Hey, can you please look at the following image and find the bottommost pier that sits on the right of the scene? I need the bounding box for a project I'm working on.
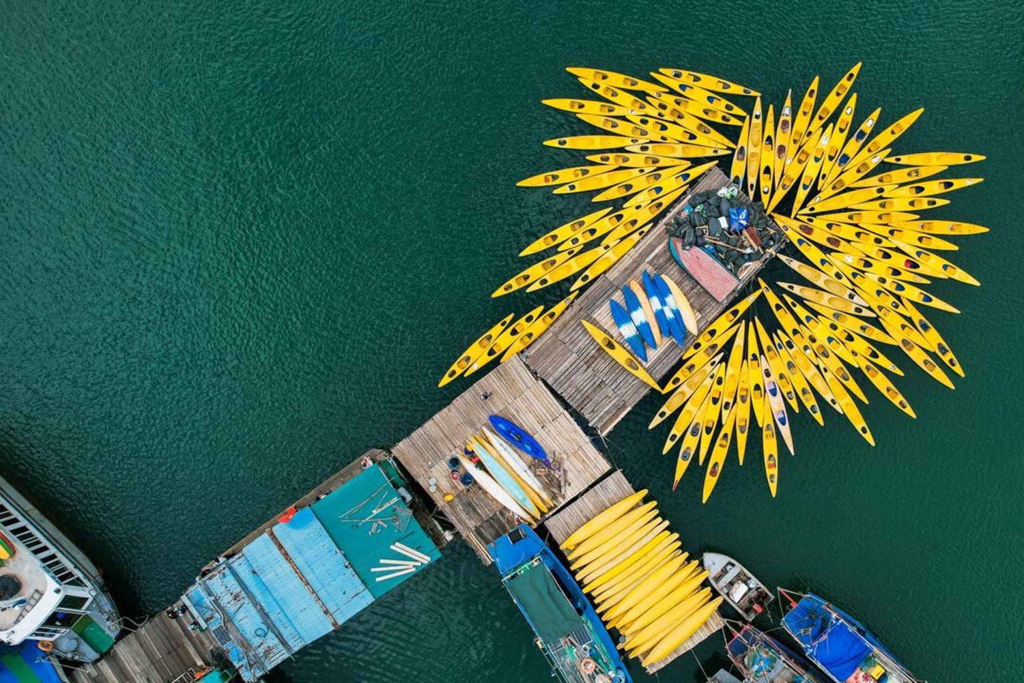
[546,470,723,673]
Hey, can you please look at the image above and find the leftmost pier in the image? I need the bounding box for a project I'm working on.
[68,447,444,683]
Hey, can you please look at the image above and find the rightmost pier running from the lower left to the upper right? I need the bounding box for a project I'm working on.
[525,168,787,435]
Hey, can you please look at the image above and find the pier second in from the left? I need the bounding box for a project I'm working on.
[392,356,610,565]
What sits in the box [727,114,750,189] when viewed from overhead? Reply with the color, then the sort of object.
yellow boat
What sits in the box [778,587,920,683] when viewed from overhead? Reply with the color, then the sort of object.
blue boat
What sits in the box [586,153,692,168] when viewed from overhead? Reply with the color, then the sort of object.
yellow boat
